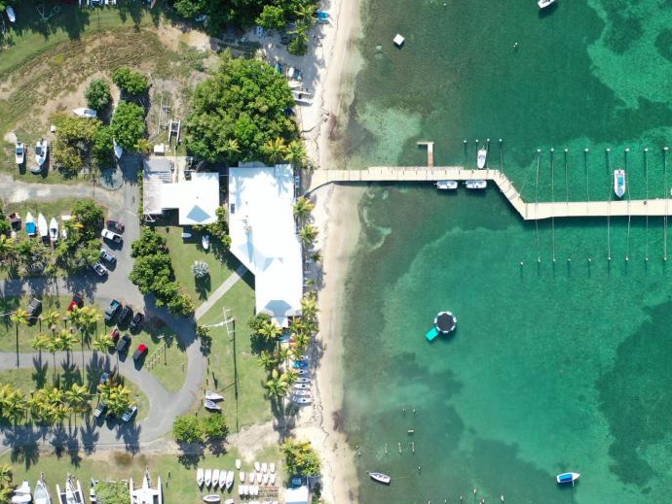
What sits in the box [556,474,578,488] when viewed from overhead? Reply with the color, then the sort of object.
blue boat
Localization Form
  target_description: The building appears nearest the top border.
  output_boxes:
[143,157,221,225]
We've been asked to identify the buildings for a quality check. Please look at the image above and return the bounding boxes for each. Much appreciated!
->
[143,157,221,225]
[285,477,321,504]
[228,162,302,327]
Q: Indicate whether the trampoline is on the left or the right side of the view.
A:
right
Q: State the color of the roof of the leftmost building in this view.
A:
white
